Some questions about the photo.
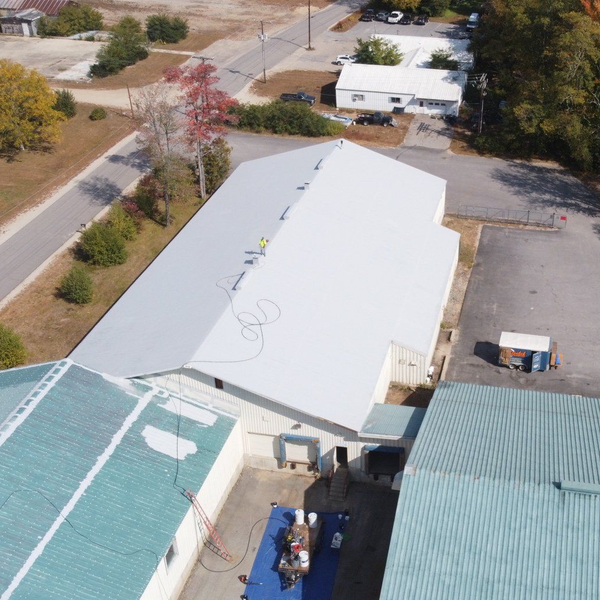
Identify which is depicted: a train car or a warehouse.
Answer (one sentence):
This aerial view contains a warehouse.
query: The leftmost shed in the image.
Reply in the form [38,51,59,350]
[0,15,32,43]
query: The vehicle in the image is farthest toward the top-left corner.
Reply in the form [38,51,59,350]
[278,87,319,103]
